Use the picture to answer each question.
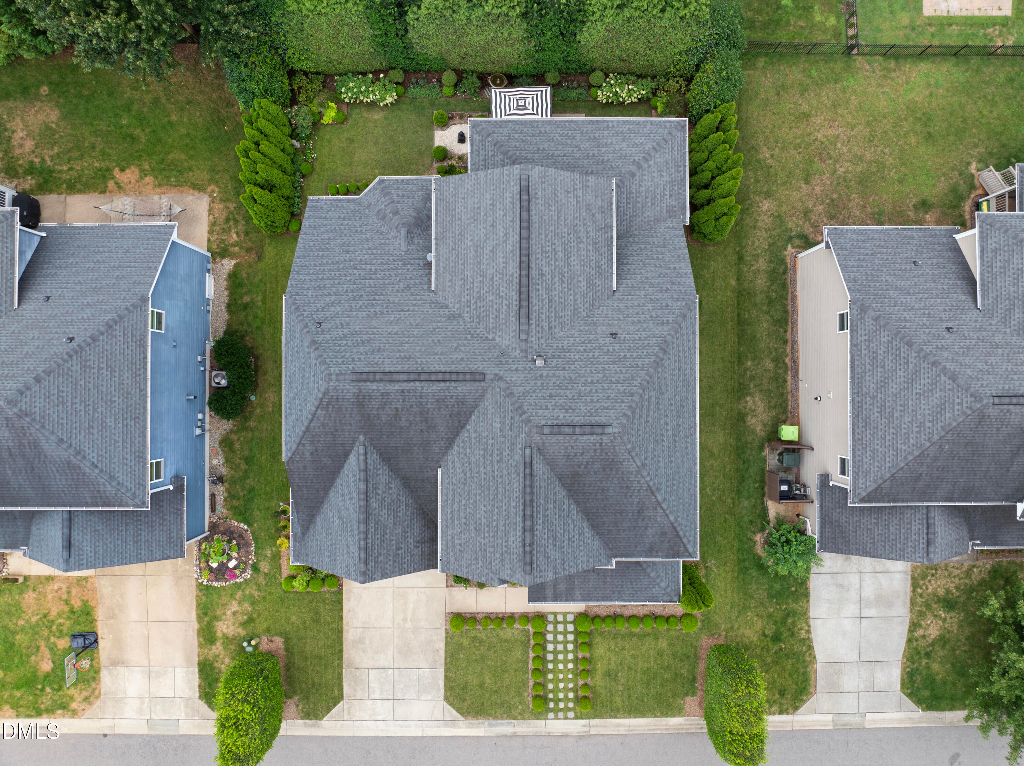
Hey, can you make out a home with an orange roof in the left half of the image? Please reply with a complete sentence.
No, no home with an orange roof can be made out in the left half of the image.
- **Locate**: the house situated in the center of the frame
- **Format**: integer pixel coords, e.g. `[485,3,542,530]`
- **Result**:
[282,116,700,606]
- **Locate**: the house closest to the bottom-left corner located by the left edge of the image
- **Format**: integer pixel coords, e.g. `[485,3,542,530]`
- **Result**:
[0,206,211,573]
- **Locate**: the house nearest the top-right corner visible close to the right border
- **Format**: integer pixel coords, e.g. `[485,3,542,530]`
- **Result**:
[790,162,1024,564]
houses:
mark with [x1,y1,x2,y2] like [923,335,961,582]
[0,206,211,573]
[790,162,1024,564]
[282,116,700,606]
